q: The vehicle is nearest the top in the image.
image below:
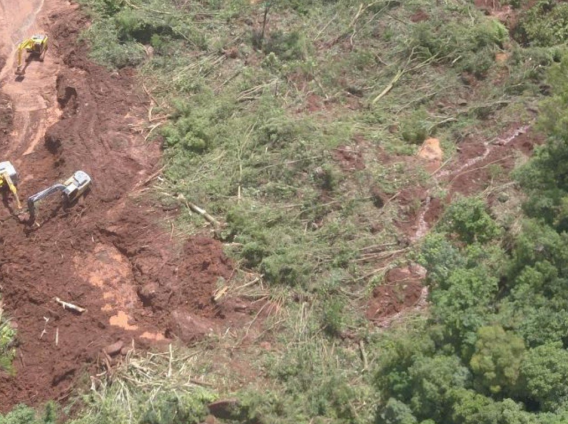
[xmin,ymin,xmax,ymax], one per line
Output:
[12,37,51,76]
